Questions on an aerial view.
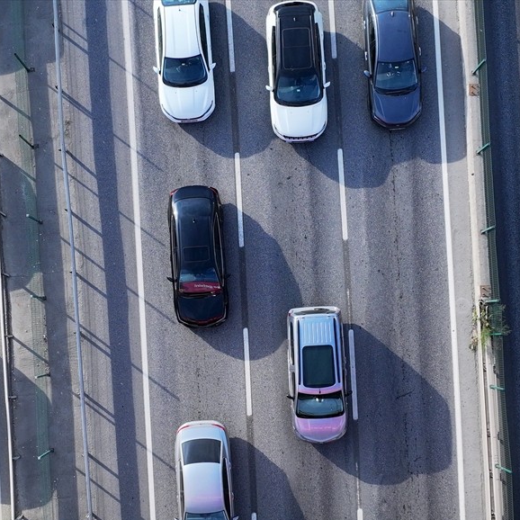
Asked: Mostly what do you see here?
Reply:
paved ground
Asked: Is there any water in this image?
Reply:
No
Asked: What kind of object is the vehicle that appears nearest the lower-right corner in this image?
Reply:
car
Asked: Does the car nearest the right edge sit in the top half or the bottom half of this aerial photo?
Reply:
top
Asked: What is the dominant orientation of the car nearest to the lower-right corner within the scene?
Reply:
from top to bottom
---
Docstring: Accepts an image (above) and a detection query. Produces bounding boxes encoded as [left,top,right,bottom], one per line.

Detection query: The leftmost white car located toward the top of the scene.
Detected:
[150,0,217,128]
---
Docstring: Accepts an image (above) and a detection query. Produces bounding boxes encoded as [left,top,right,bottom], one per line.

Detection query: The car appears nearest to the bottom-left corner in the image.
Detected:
[172,420,239,520]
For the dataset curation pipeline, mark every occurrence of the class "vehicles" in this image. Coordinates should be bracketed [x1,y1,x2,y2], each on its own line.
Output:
[165,186,231,328]
[150,0,217,128]
[361,0,428,134]
[264,0,332,147]
[172,420,239,520]
[285,306,353,443]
